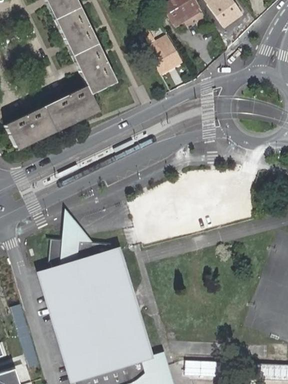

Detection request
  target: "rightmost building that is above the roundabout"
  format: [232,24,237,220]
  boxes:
[204,0,242,28]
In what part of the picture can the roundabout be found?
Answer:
top right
